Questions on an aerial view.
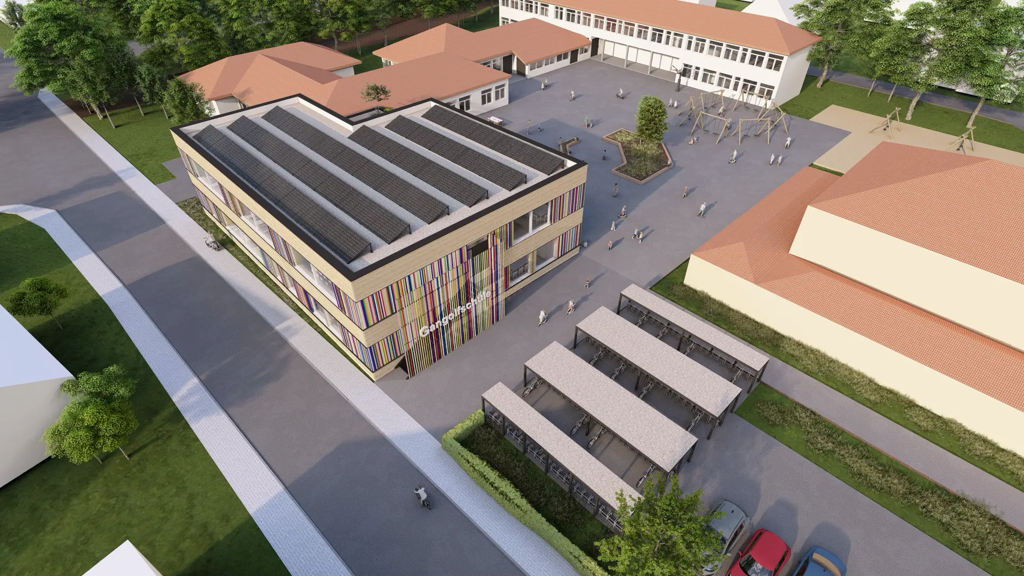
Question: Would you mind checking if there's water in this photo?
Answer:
No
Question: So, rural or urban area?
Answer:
urban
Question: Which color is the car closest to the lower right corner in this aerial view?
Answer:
blue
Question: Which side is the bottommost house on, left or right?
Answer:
left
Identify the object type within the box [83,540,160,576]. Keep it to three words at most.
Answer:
house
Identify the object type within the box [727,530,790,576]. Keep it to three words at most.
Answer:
car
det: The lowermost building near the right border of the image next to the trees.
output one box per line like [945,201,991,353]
[687,141,1024,453]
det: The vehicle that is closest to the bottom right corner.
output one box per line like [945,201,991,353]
[793,547,845,576]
